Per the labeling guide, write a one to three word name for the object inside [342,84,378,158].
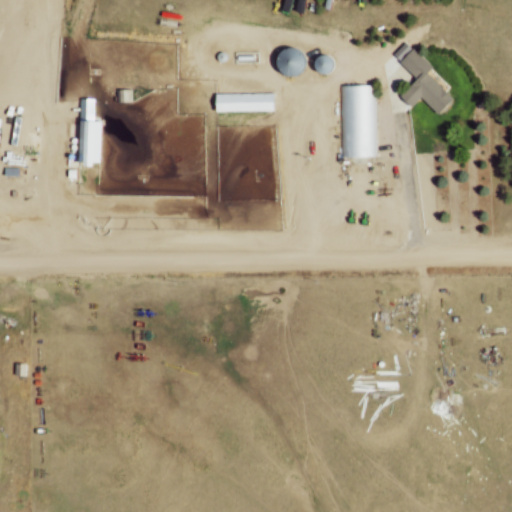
barn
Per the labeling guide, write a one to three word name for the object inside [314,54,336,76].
silo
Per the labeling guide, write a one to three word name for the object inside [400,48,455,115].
house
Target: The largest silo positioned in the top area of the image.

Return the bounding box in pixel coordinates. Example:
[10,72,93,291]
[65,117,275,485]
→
[276,46,308,78]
